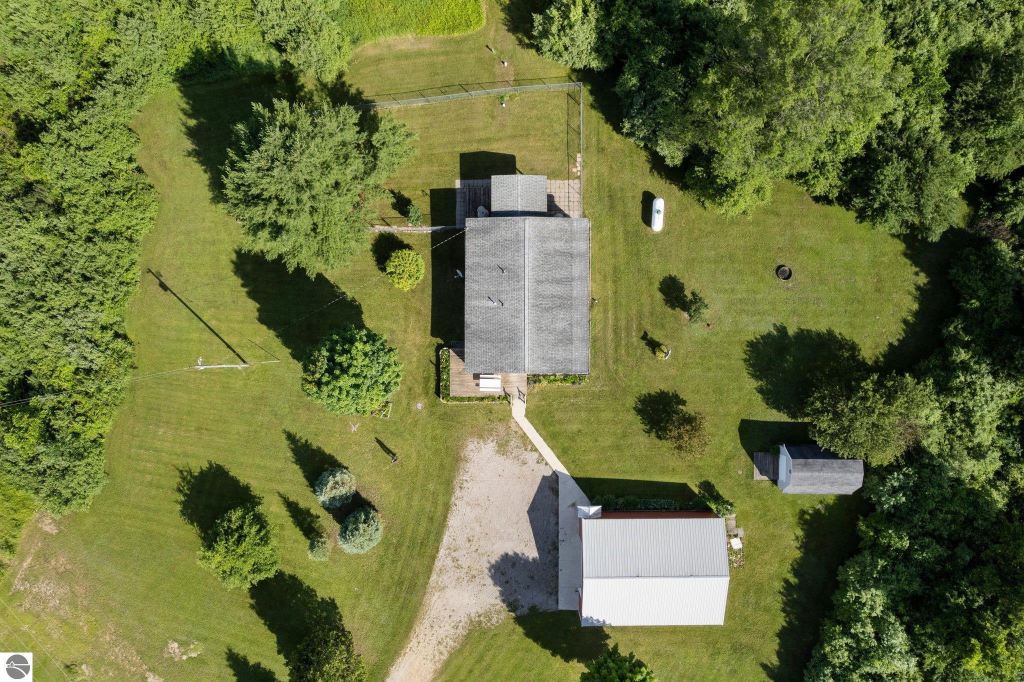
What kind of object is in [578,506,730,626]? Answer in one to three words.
building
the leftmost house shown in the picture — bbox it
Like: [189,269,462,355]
[465,175,591,374]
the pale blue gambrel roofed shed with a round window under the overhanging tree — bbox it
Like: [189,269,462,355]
[777,442,864,494]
